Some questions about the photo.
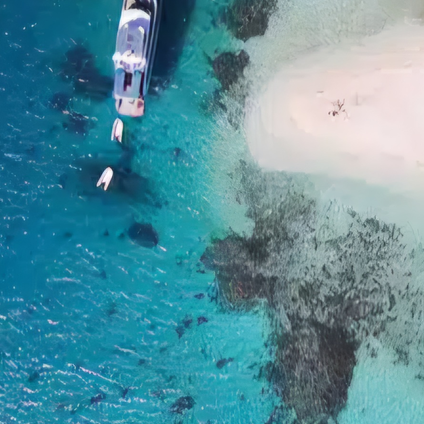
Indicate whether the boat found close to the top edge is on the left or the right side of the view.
left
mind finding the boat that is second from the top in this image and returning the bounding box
[111,117,123,142]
